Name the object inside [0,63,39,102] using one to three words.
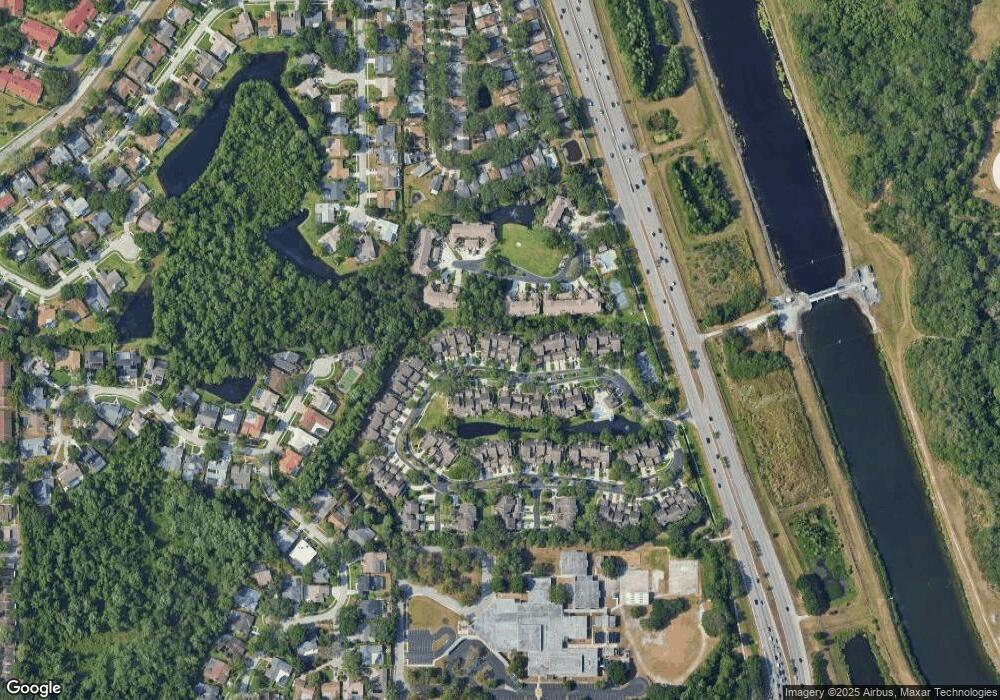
building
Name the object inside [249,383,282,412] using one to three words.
house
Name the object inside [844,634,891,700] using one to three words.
pond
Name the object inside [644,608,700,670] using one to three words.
sports field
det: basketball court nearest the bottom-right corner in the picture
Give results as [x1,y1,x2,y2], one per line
[669,559,698,595]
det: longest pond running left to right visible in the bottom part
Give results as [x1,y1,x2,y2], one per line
[456,417,642,439]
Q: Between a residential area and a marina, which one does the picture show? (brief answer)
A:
residential area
